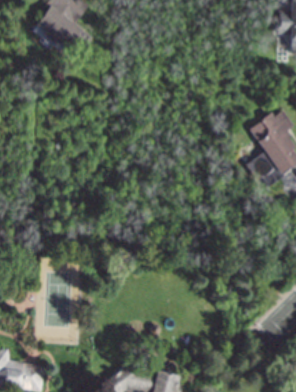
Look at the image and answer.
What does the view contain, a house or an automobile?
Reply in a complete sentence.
Looking from above, you can make out a house.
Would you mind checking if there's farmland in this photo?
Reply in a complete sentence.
No, there is no farmland in the image.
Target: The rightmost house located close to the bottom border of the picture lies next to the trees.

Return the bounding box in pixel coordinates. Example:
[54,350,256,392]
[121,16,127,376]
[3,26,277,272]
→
[152,370,182,392]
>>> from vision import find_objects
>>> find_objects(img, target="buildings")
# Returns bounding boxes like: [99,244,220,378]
[114,371,152,392]
[273,0,296,50]
[250,110,296,182]
[0,344,44,392]
[152,370,182,392]
[36,0,96,55]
